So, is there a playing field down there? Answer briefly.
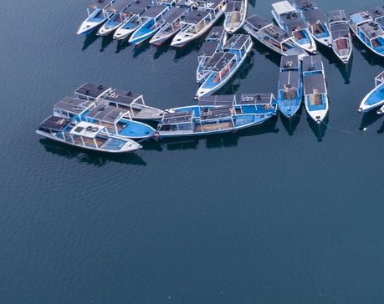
No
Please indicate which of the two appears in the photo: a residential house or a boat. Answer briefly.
boat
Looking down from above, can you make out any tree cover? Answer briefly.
No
